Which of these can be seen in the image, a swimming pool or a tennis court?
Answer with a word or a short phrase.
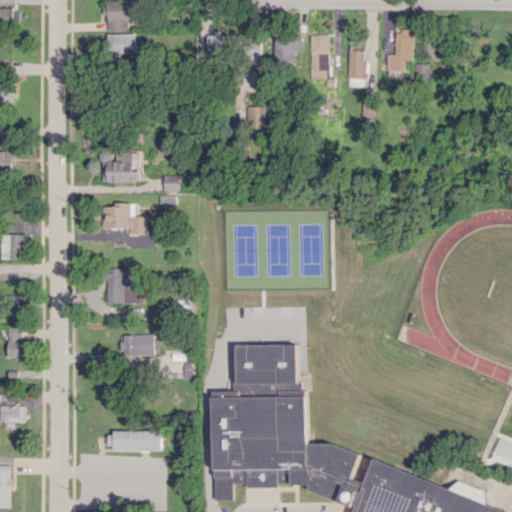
tennis court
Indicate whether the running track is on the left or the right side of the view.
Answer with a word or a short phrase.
right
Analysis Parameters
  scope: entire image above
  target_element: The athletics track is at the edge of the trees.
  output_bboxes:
[398,209,512,385]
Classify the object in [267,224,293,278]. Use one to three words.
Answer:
tennis court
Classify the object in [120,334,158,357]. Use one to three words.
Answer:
house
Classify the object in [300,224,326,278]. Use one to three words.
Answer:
tennis court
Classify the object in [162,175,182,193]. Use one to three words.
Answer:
building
